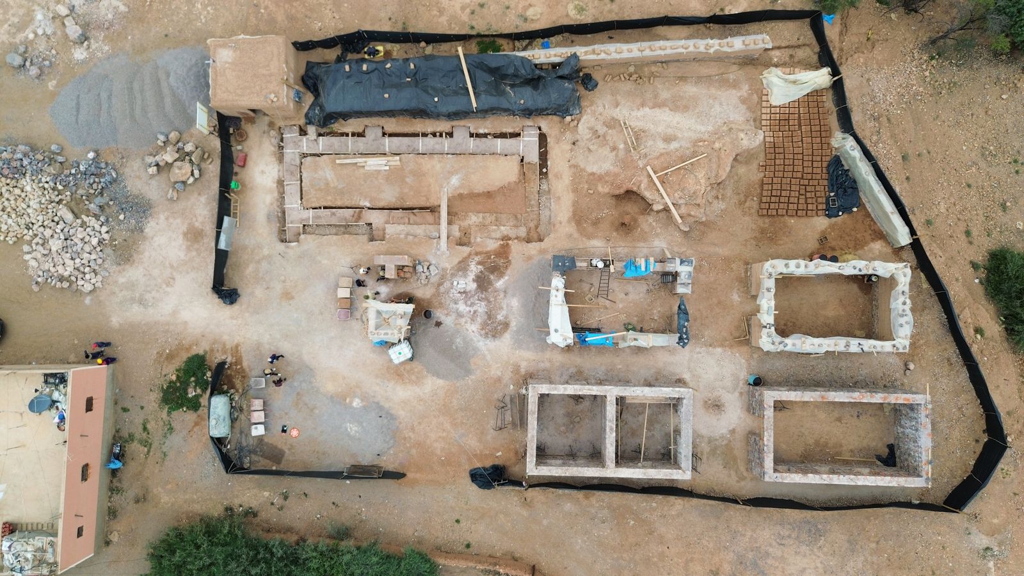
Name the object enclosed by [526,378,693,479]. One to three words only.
house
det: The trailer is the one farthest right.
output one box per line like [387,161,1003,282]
[205,391,236,456]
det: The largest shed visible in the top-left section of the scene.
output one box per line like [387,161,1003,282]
[205,34,312,130]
